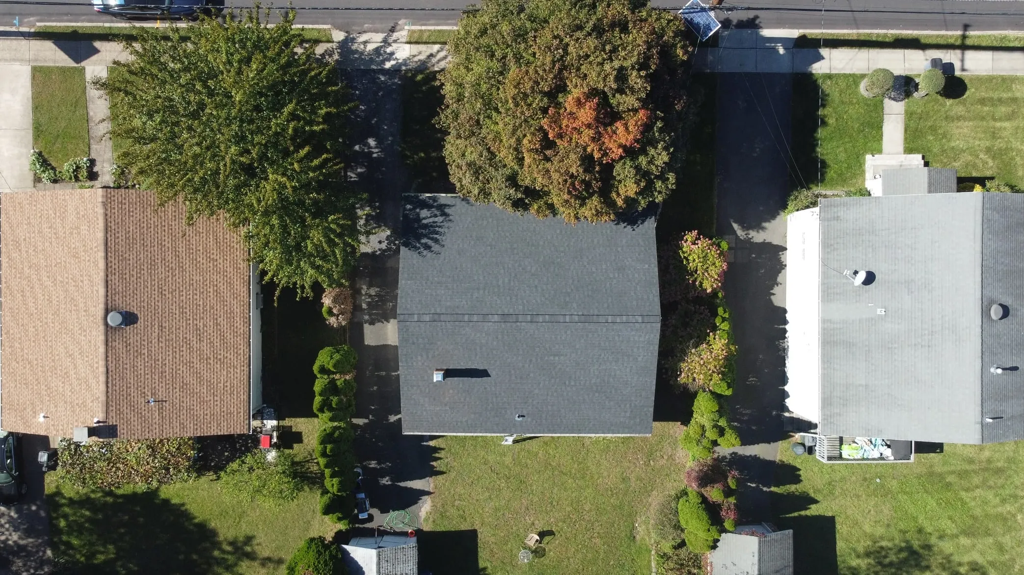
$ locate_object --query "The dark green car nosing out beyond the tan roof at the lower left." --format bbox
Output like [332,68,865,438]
[0,432,37,506]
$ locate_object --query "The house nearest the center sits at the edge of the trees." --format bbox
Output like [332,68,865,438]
[396,192,662,444]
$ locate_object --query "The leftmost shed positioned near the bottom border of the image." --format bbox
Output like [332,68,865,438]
[341,531,421,575]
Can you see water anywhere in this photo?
No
